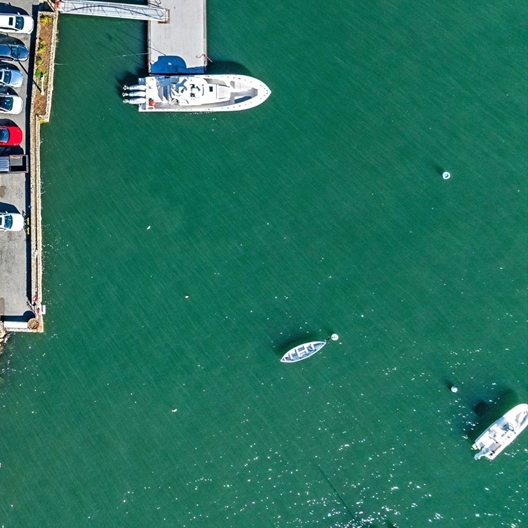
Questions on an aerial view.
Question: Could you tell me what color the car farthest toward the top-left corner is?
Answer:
white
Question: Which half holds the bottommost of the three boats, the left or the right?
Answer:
right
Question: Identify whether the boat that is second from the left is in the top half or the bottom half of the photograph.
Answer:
bottom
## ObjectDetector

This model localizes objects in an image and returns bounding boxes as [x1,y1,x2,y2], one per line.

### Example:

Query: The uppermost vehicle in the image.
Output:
[0,12,34,35]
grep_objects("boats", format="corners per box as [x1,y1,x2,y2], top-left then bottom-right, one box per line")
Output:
[475,400,528,461]
[280,341,328,363]
[121,64,272,110]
